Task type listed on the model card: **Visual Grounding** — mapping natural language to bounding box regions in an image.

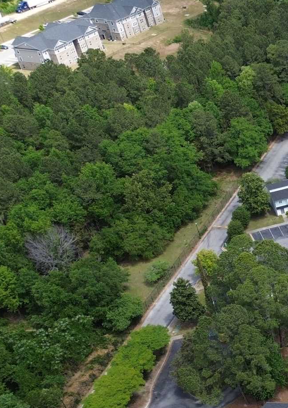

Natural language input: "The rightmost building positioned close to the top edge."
[90,0,166,43]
